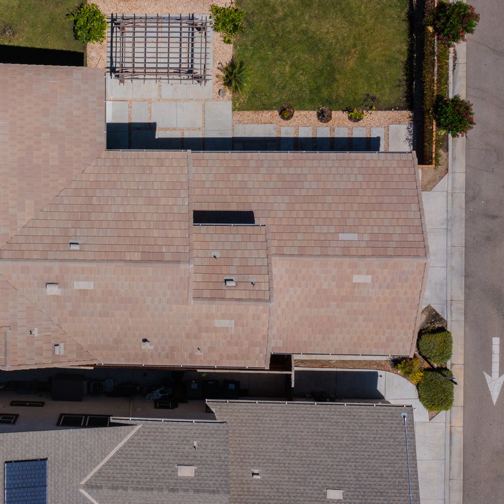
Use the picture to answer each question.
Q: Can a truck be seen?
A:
No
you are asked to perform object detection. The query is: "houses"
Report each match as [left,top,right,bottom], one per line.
[0,385,423,504]
[0,61,434,376]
